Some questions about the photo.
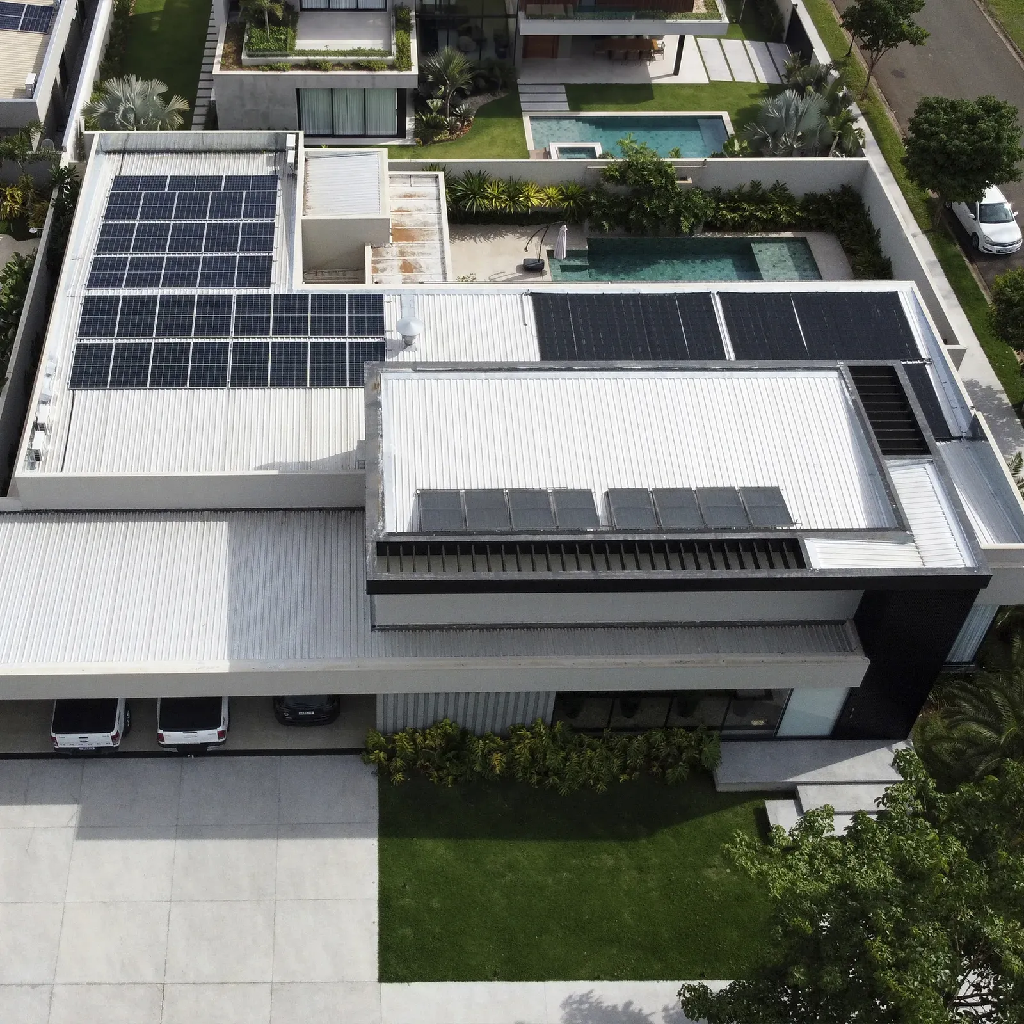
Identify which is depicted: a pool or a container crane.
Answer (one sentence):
Visible in the photo is a pool.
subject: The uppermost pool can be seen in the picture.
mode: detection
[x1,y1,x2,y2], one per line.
[531,117,736,158]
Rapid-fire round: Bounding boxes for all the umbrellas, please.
[523,218,572,269]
